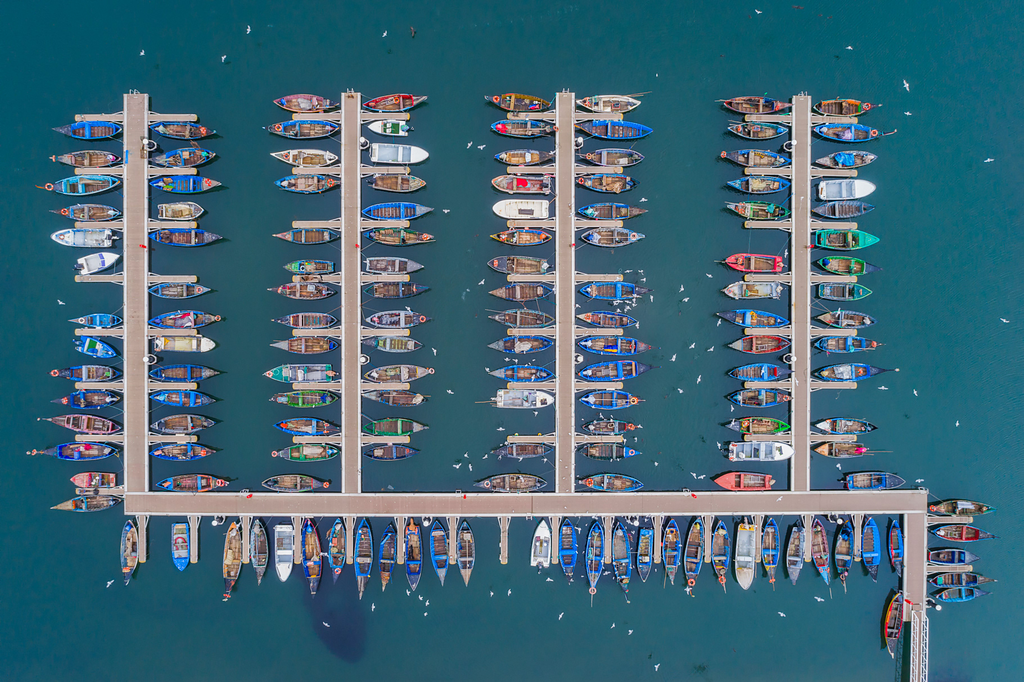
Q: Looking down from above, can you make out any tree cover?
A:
No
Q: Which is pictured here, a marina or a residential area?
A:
marina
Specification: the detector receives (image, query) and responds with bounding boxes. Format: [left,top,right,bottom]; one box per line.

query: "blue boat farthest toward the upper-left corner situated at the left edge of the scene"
[50,120,124,140]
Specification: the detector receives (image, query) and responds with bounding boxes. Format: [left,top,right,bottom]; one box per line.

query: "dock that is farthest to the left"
[75,88,199,499]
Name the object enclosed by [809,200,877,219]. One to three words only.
boat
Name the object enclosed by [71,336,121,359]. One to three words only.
boat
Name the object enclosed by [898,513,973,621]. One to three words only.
pier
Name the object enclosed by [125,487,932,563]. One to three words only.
pier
